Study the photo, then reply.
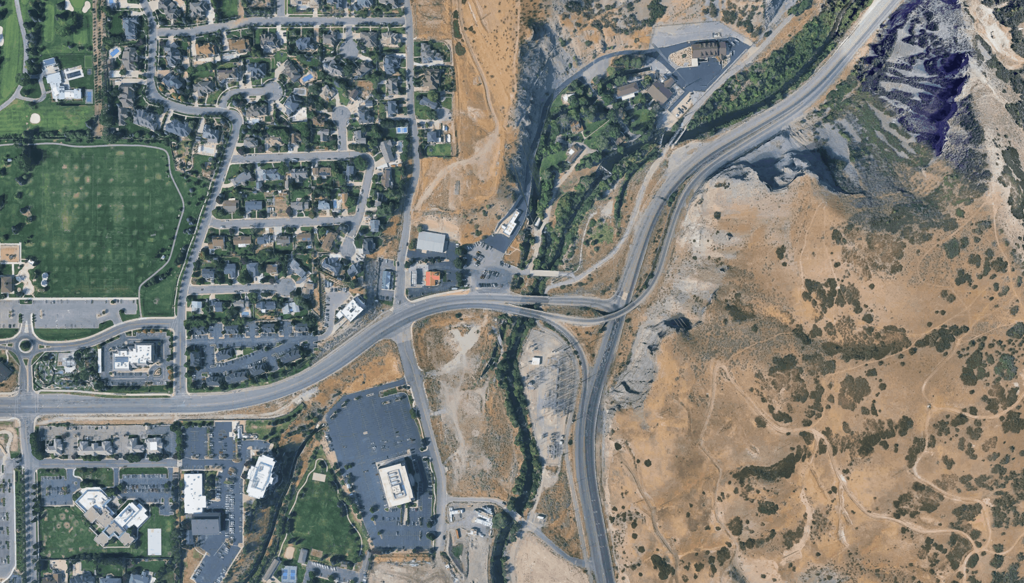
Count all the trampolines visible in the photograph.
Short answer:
0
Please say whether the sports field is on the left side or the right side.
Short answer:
left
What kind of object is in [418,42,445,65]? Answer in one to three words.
house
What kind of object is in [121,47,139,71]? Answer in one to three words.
house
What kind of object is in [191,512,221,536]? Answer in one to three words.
building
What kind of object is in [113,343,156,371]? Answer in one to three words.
building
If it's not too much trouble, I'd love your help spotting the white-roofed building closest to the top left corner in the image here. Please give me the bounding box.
[46,73,83,101]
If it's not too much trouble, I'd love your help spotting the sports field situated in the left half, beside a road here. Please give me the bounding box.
[0,137,210,314]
